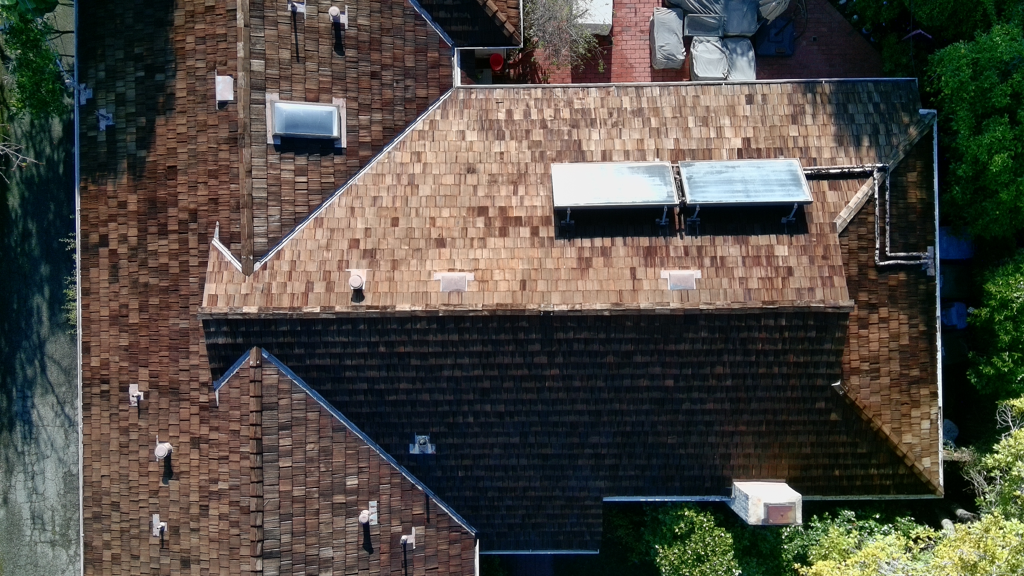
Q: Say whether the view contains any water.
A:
No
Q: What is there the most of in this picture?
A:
buildings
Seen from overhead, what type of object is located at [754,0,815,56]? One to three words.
umbrella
